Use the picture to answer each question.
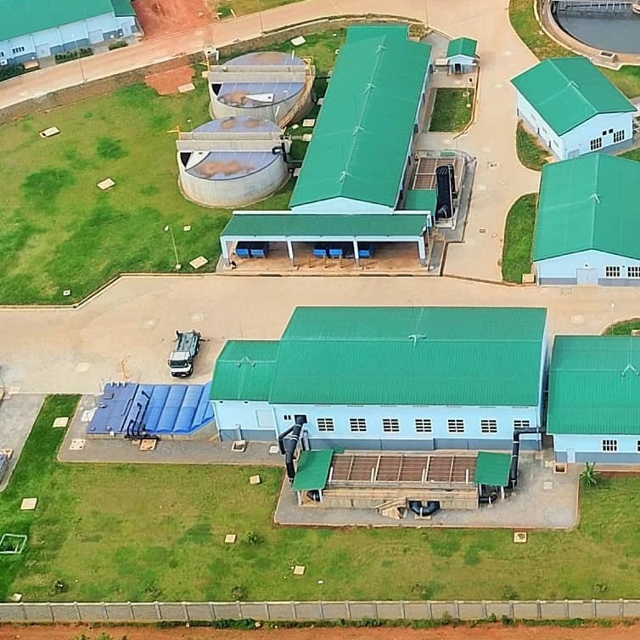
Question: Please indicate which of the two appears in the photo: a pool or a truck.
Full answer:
I can see a truck in this picture.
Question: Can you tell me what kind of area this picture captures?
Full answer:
The picture captures an industrial area.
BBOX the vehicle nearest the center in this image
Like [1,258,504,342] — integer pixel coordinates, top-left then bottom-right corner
[160,319,214,373]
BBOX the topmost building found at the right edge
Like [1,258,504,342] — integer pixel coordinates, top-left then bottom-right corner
[506,55,638,162]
